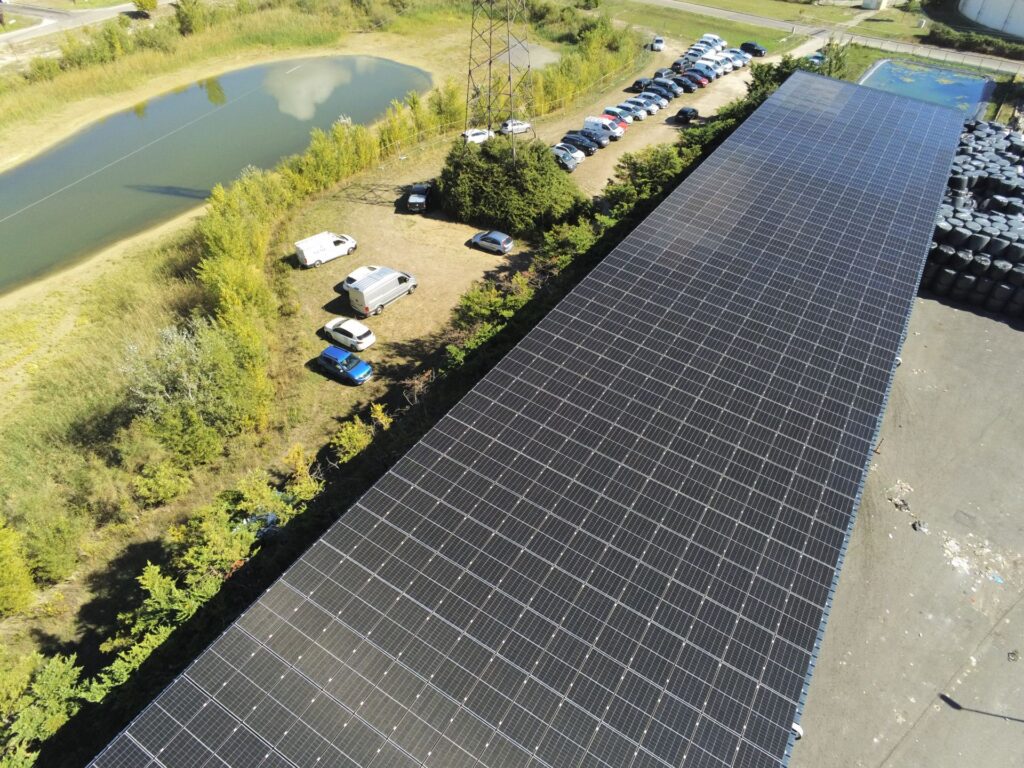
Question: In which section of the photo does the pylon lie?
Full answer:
The pylon appears toward the top of the photo.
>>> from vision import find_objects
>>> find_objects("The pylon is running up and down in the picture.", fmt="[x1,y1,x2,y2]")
[465,0,535,235]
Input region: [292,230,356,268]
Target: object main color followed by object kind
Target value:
white van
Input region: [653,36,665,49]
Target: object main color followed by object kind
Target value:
white vehicle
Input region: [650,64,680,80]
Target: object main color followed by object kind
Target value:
gray vehicle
